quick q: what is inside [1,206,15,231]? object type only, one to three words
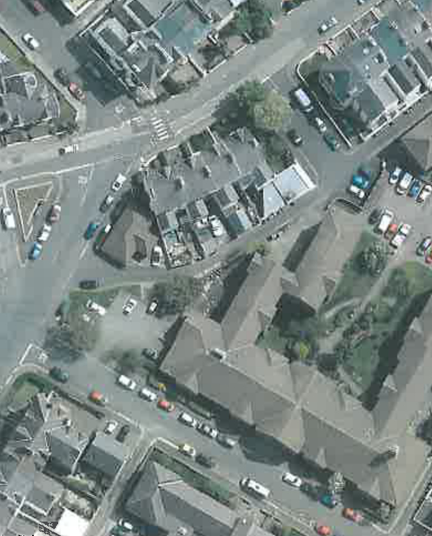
vehicle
